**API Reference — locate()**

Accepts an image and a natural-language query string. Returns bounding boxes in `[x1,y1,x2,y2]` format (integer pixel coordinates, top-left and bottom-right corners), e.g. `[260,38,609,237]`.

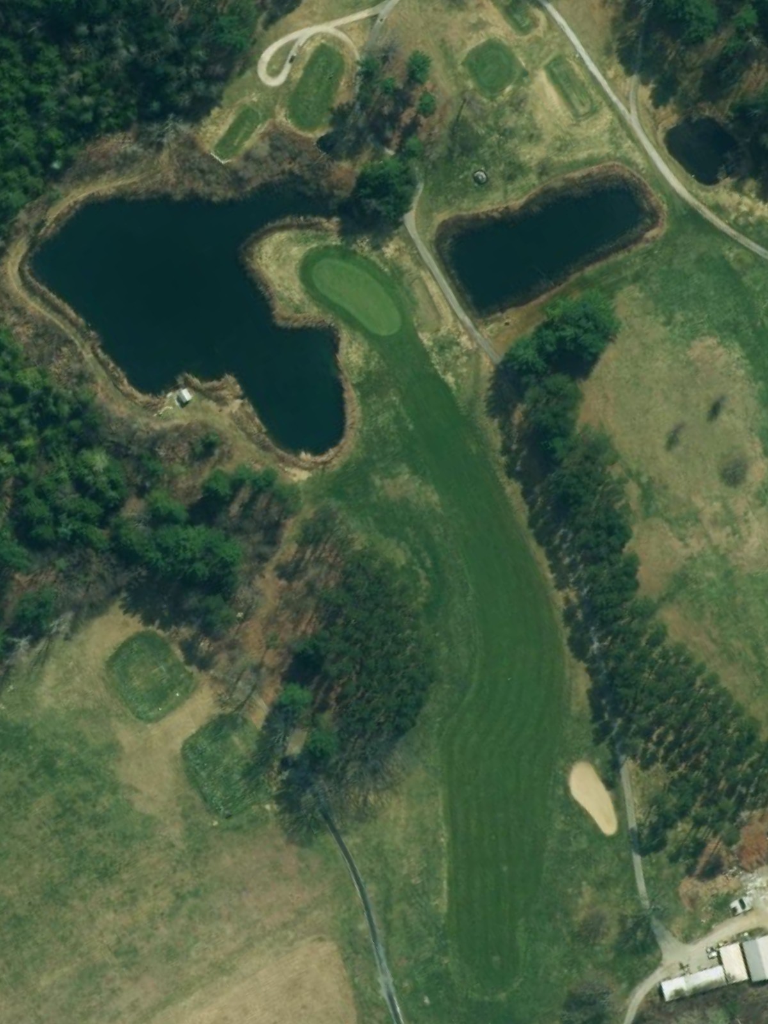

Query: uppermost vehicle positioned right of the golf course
[728,897,753,915]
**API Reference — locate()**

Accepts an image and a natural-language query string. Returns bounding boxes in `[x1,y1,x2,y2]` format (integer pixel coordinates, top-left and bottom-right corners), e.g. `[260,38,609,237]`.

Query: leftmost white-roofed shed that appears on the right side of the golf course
[661,966,727,1002]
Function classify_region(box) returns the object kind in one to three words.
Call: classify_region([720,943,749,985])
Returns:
shed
